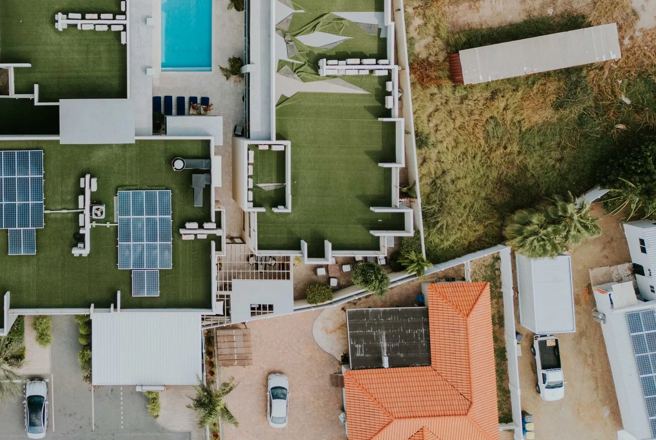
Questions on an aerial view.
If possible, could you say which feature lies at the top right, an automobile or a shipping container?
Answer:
shipping container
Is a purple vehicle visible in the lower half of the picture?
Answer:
No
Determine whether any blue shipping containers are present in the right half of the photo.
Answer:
No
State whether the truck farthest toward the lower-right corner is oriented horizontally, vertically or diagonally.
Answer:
vertically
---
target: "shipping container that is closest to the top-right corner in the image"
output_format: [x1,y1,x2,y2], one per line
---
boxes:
[447,23,623,87]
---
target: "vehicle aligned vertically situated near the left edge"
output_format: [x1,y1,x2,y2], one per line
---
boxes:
[21,377,50,439]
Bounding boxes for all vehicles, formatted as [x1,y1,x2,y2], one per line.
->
[21,377,50,439]
[266,371,291,427]
[532,334,568,399]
